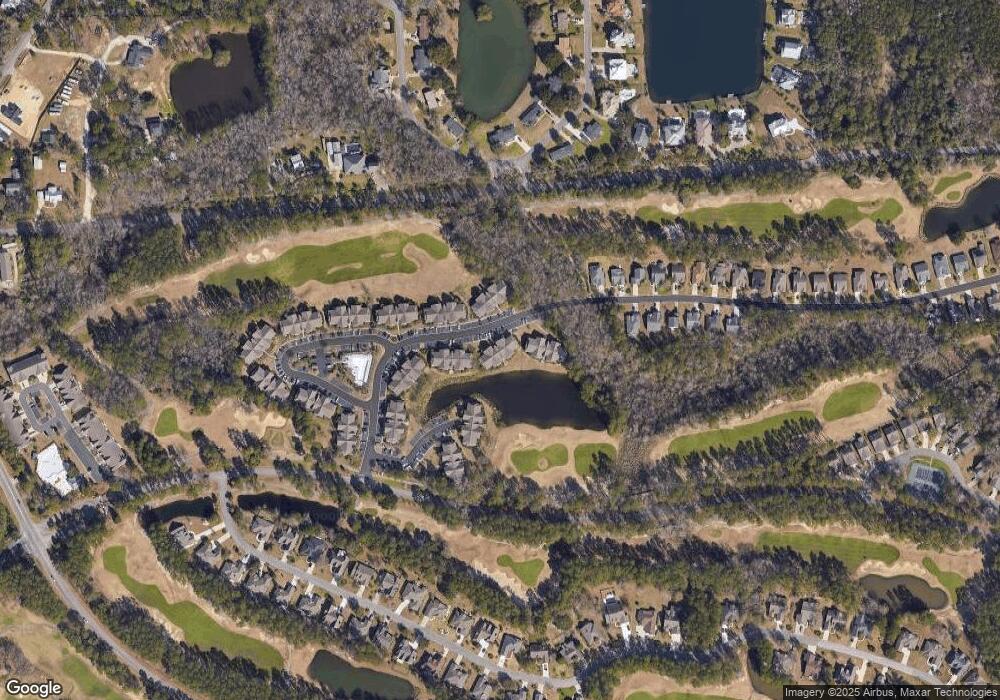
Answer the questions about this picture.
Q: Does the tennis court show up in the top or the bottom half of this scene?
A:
bottom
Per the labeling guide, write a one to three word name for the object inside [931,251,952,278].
house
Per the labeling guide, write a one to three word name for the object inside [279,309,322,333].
building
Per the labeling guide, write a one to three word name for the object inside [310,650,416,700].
pond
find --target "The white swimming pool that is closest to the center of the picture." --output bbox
[349,353,372,386]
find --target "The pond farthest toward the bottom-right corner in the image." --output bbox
[860,575,949,610]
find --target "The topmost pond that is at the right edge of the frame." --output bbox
[924,176,1000,239]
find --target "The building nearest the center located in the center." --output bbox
[477,335,519,364]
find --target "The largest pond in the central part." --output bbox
[427,371,608,430]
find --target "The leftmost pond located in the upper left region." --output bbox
[169,32,266,133]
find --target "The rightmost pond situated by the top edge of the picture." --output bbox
[455,0,532,118]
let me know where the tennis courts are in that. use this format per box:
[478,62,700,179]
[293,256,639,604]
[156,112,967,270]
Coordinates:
[906,461,946,498]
